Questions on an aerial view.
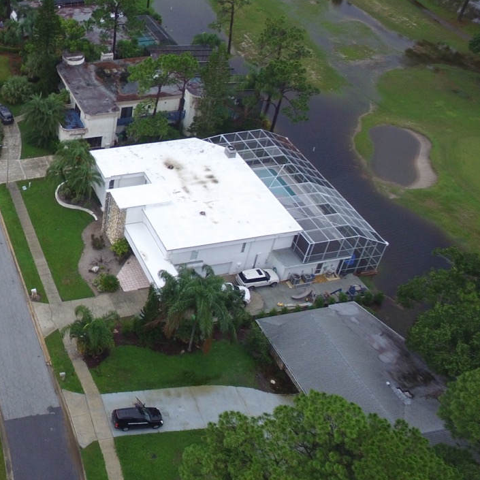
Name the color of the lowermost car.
black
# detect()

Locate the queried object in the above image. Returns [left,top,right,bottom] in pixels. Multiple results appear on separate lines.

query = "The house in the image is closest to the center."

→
[92,138,341,294]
